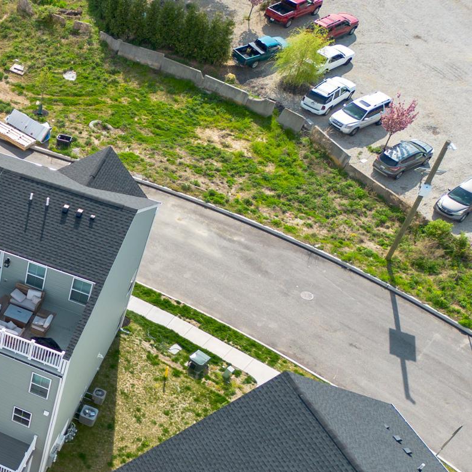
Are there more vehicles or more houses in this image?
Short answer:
vehicles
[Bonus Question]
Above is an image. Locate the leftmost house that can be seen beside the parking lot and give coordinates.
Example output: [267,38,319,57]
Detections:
[0,145,159,472]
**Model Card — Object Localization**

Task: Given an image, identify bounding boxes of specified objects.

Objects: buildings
[0,145,159,472]
[122,371,447,472]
